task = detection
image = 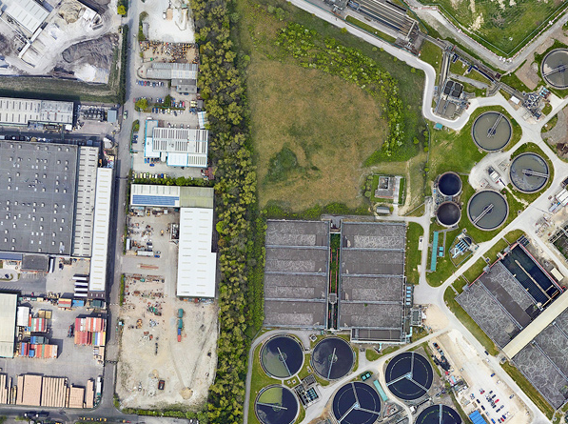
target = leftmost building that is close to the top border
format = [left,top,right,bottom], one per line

[6,0,50,36]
